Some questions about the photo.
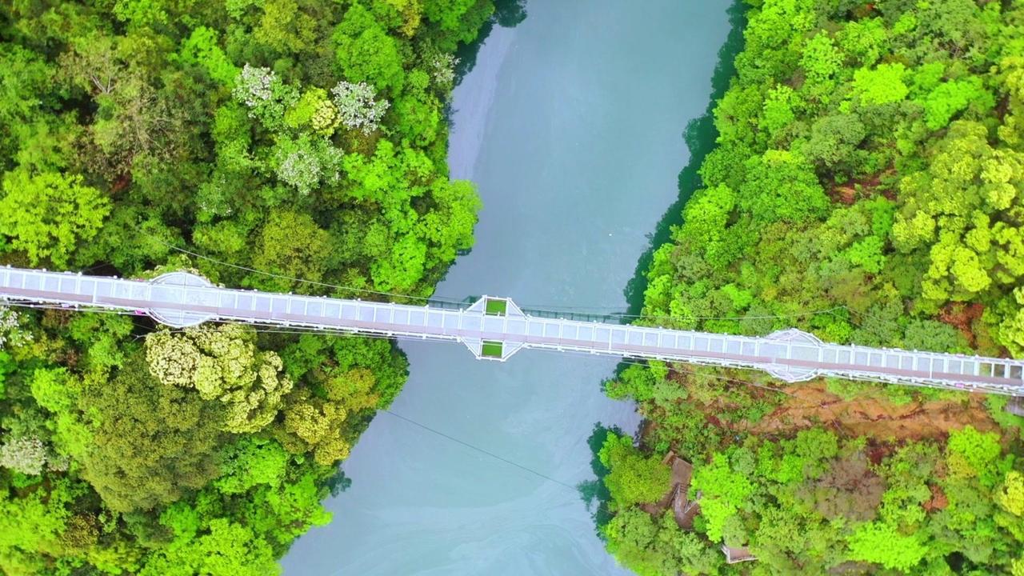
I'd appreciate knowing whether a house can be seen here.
No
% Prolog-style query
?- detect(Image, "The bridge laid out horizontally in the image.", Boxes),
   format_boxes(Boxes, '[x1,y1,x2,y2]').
[0,233,1024,398]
